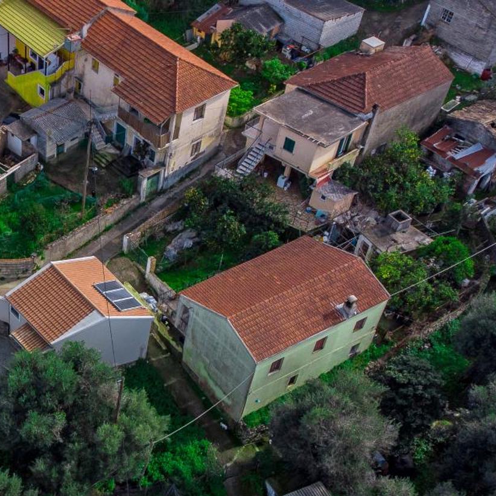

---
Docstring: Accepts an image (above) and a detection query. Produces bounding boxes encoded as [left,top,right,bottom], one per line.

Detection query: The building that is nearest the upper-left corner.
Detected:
[0,0,106,110]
